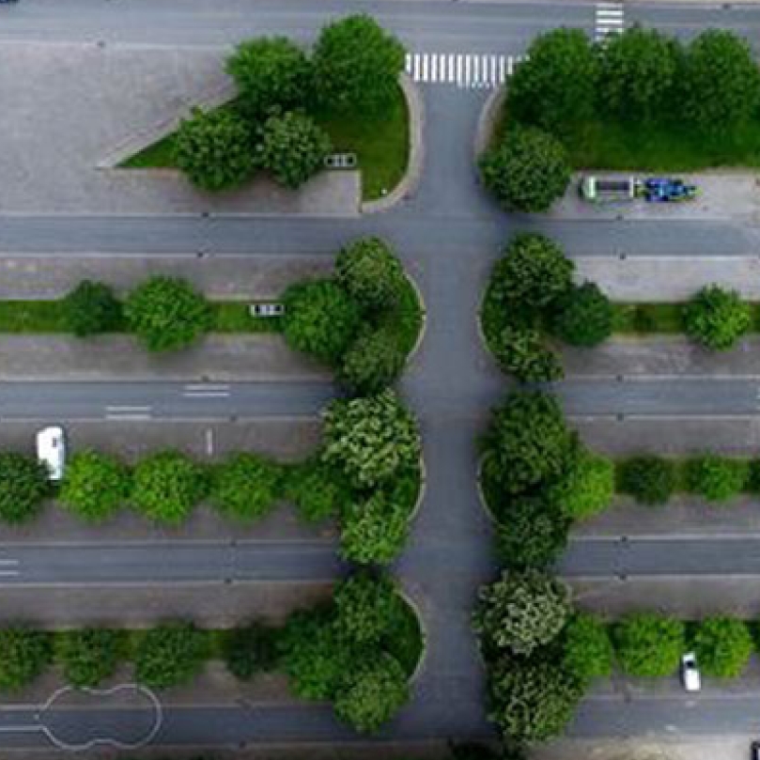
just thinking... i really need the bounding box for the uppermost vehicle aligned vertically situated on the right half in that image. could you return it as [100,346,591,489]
[680,652,698,690]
